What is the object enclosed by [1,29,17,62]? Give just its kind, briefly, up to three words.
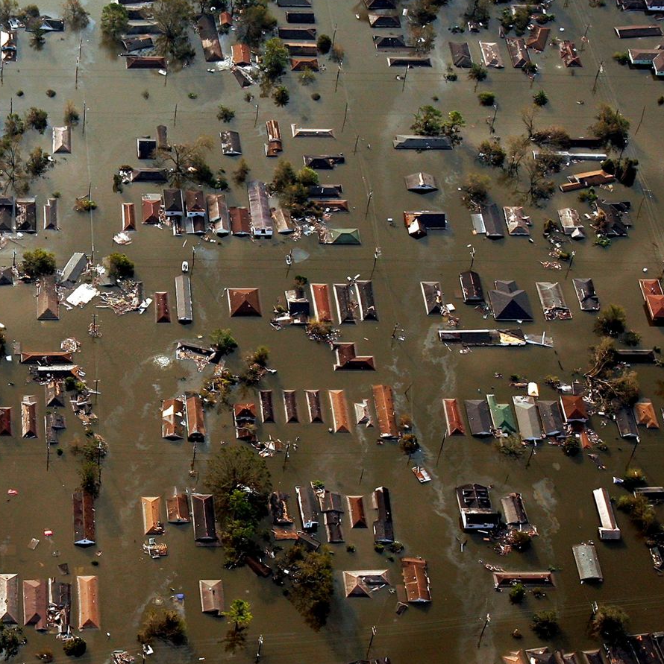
house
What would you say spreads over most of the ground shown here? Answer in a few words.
water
